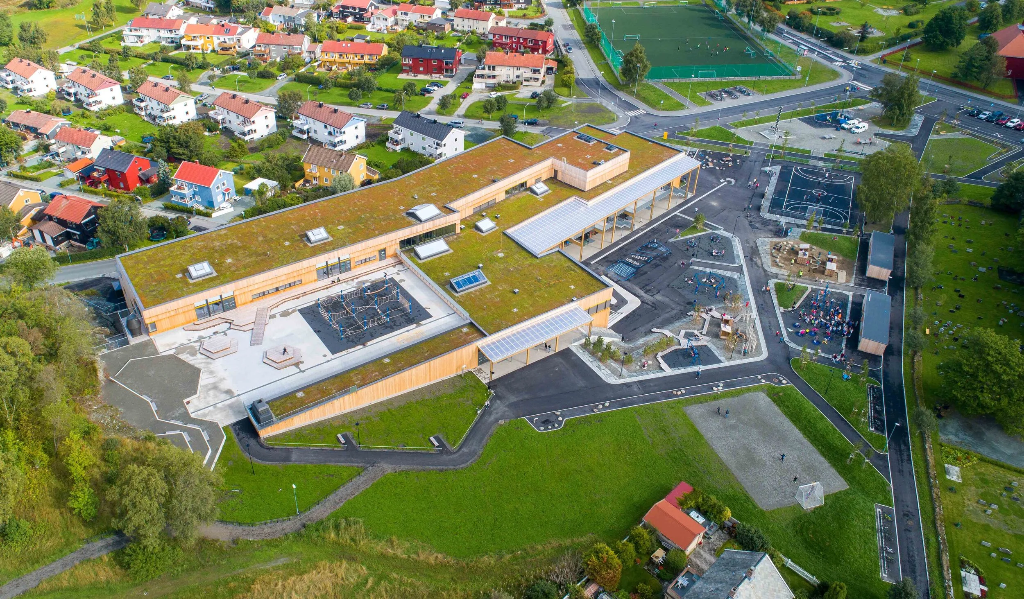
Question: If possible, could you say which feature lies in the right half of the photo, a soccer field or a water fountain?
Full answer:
The feature located in the right half of the photo is a soccer field.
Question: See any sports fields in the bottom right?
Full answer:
Yes, a sports field appears in the bottom right.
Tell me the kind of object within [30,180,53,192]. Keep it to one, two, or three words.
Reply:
vehicle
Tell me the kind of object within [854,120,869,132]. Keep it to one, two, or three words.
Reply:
vehicle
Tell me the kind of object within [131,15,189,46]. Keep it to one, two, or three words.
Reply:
house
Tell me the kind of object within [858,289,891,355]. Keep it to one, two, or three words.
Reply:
shed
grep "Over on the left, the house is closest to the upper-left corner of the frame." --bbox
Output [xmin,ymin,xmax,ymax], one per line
[2,57,60,99]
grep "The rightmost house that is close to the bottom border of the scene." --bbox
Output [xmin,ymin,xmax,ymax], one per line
[683,549,798,599]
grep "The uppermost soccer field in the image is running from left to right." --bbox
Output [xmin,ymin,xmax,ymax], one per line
[592,5,791,79]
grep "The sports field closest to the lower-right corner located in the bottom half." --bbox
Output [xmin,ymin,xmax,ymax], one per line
[684,391,849,510]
